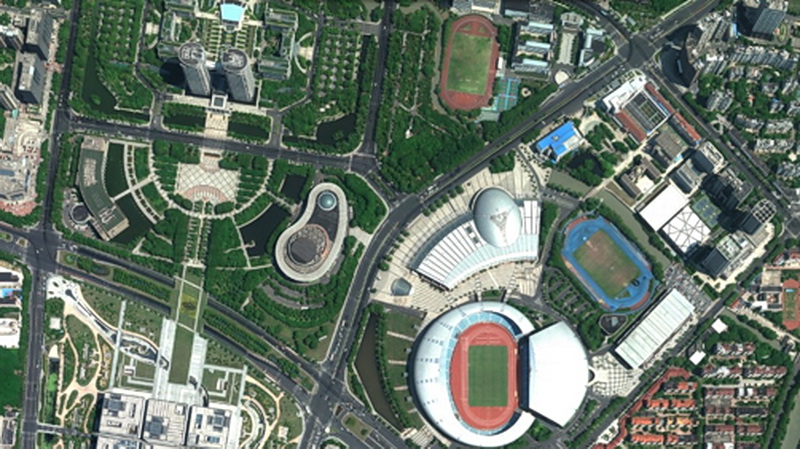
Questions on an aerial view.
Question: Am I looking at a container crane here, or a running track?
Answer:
running track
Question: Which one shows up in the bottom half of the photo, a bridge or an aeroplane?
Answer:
bridge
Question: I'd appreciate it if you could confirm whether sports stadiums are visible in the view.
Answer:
Yes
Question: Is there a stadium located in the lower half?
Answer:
Yes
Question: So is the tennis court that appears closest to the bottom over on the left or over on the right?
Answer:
right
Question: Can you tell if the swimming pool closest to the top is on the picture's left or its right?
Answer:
left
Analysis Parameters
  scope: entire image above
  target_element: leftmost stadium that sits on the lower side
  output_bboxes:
[413,298,534,447]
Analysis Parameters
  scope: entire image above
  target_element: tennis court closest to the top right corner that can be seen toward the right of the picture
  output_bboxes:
[692,195,720,228]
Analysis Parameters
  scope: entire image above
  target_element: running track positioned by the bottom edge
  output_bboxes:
[450,321,519,429]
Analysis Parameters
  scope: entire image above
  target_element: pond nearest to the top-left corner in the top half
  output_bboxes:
[82,0,149,121]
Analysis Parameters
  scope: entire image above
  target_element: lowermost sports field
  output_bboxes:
[468,346,507,406]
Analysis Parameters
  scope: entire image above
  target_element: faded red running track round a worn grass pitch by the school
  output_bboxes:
[441,14,496,110]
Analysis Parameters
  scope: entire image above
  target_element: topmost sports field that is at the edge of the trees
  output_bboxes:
[446,31,491,95]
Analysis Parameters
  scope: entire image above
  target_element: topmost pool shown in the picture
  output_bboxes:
[219,0,252,26]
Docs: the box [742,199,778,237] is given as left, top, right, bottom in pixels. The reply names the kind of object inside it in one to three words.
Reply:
building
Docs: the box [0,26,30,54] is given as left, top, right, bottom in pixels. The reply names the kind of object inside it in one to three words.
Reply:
building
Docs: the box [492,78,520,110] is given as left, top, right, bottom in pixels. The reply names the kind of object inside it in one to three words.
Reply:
sports court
